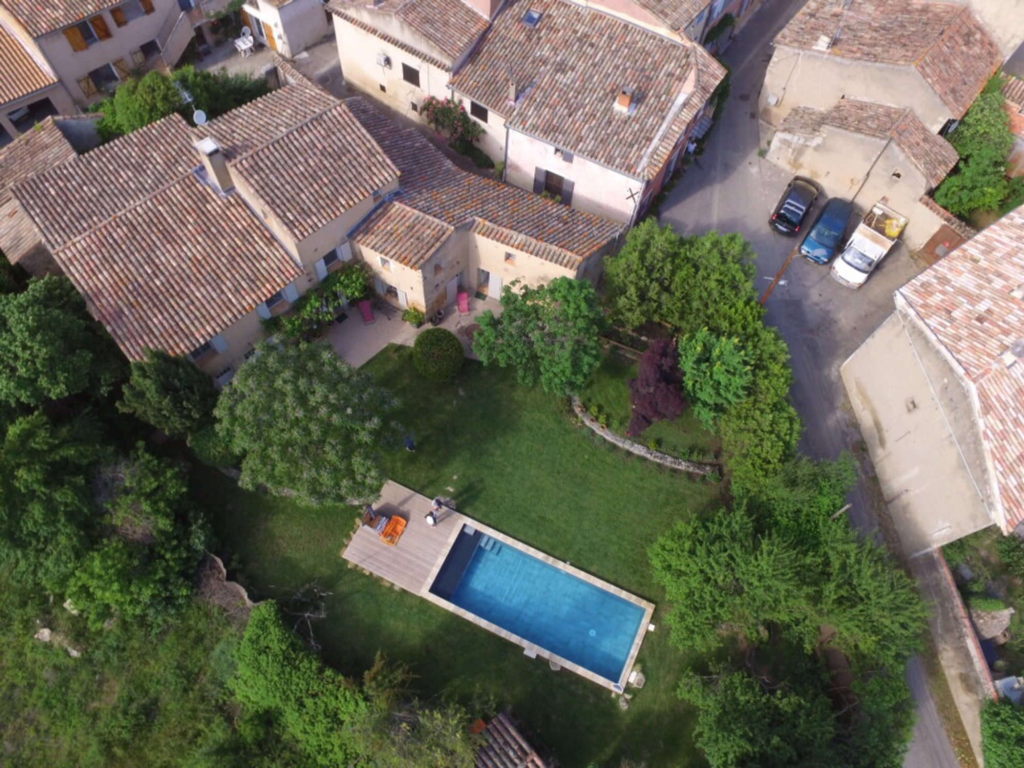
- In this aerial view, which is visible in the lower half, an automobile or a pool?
pool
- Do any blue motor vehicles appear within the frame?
Yes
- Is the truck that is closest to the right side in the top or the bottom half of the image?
top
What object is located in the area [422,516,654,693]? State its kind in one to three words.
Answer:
swimming pool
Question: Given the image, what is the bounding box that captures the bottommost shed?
[460,710,544,768]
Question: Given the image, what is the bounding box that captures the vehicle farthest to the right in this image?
[838,202,906,290]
